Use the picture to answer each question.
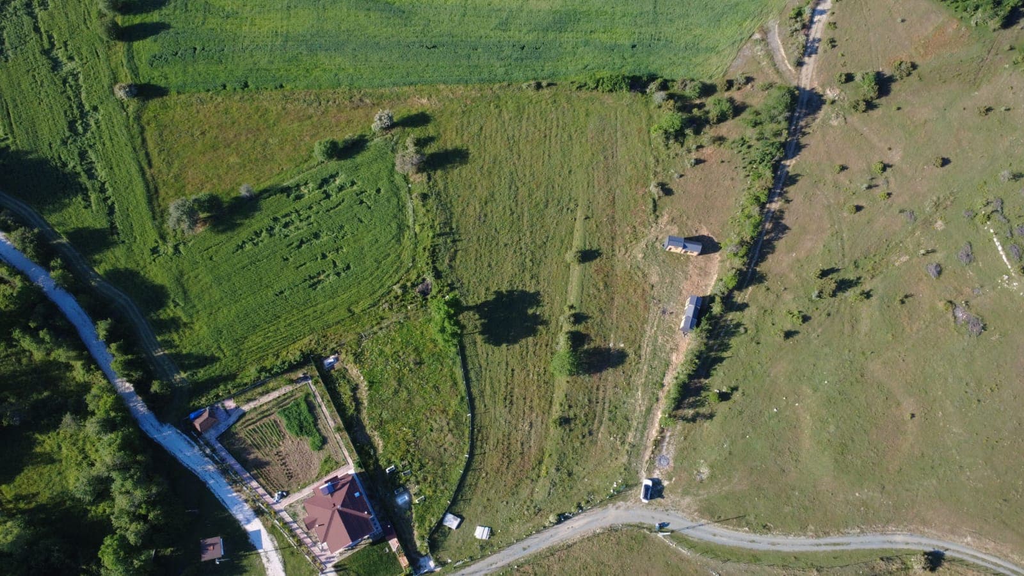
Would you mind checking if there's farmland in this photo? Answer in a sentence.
Yes, there's farmland in this view.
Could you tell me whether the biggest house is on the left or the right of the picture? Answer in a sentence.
You can find the biggest house on the left side of the picture.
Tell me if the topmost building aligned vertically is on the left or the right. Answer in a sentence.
The topmost building aligned vertically is on the right side of the image.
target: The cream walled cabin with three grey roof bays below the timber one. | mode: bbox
[681,294,703,336]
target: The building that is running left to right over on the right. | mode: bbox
[661,232,704,255]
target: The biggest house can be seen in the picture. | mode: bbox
[302,474,386,555]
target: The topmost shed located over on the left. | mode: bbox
[194,409,222,434]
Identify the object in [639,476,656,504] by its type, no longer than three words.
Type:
car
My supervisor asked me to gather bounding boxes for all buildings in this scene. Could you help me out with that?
[201,536,228,561]
[194,409,222,434]
[302,474,386,555]
[681,294,703,336]
[661,232,704,255]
